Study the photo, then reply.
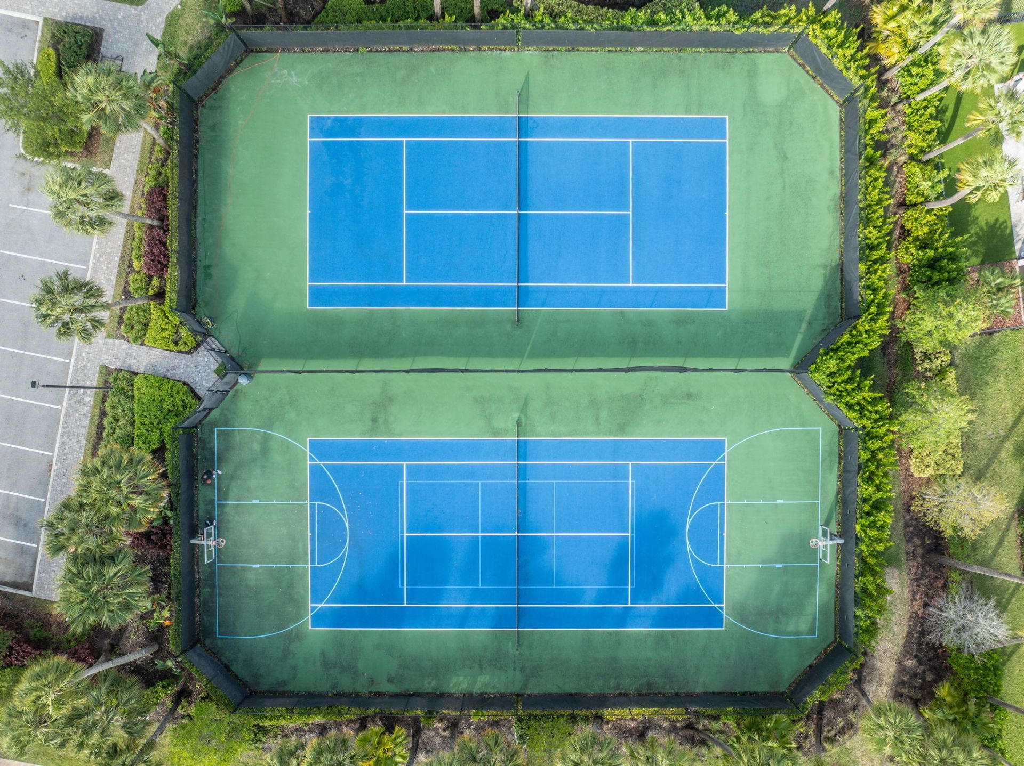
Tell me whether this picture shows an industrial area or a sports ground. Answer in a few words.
sports ground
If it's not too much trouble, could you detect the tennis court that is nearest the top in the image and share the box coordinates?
[196,51,841,370]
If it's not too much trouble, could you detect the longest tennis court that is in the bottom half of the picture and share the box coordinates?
[198,371,839,694]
